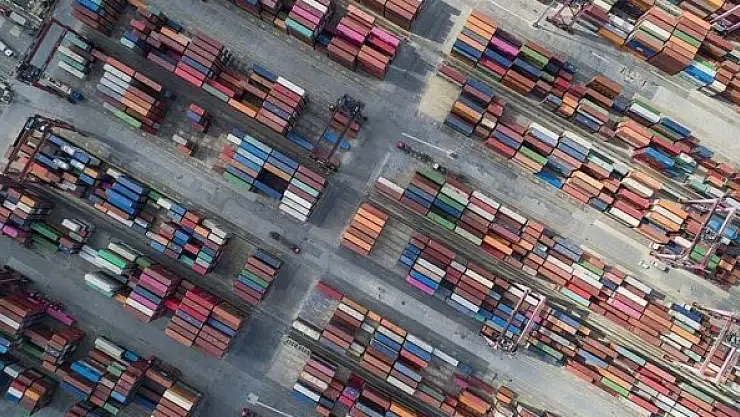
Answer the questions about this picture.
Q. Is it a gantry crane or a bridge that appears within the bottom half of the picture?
gantry crane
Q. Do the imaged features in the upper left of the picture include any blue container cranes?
No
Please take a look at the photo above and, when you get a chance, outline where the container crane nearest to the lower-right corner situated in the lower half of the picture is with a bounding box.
[658,298,740,384]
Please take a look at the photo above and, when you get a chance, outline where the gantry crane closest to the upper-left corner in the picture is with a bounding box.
[8,8,107,100]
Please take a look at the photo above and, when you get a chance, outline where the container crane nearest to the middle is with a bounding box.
[304,87,371,172]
